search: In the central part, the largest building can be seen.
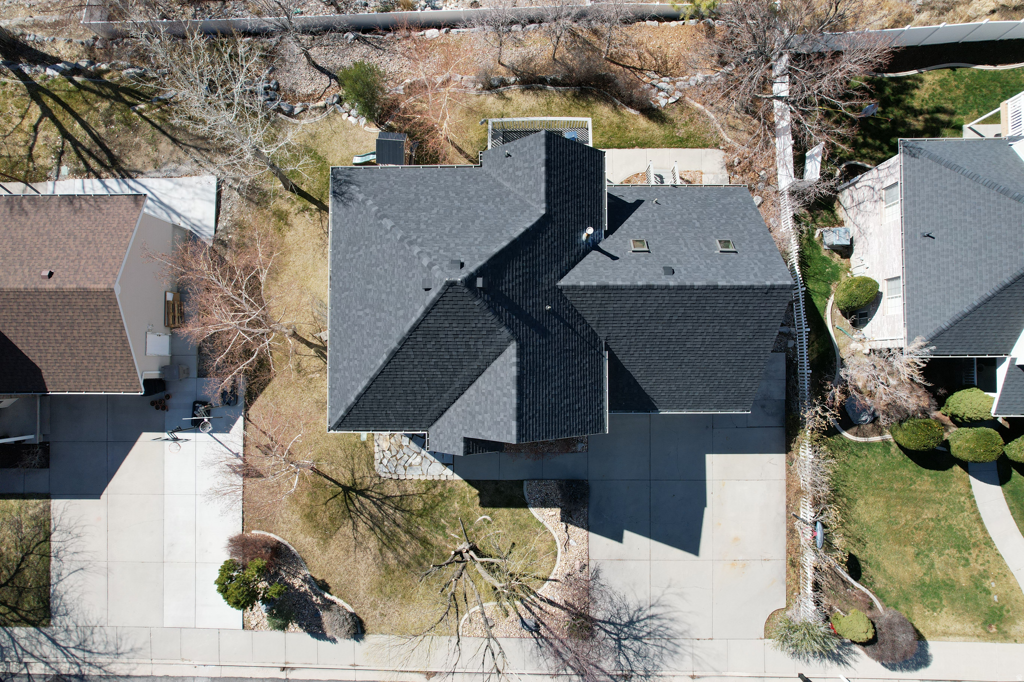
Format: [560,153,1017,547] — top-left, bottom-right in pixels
[329,134,790,457]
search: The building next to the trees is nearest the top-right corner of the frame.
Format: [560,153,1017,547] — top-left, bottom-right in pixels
[839,122,1024,418]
